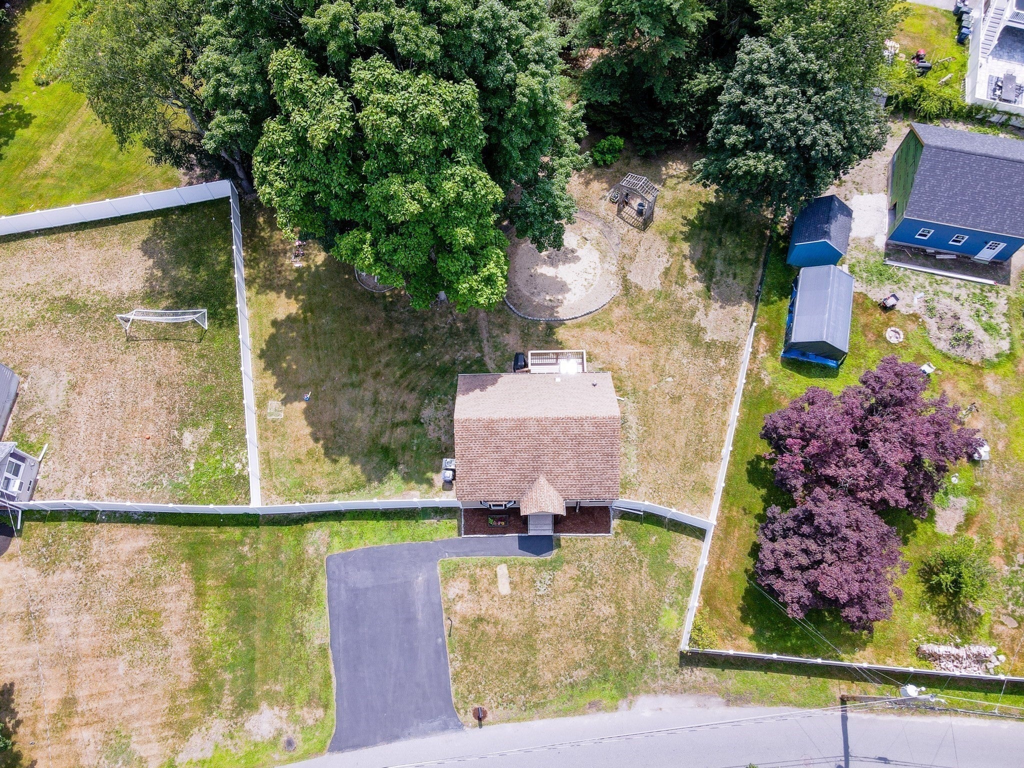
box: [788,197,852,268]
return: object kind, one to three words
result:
shed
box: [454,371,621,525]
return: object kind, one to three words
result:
house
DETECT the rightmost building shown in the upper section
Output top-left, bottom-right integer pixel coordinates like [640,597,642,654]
[887,122,1024,261]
